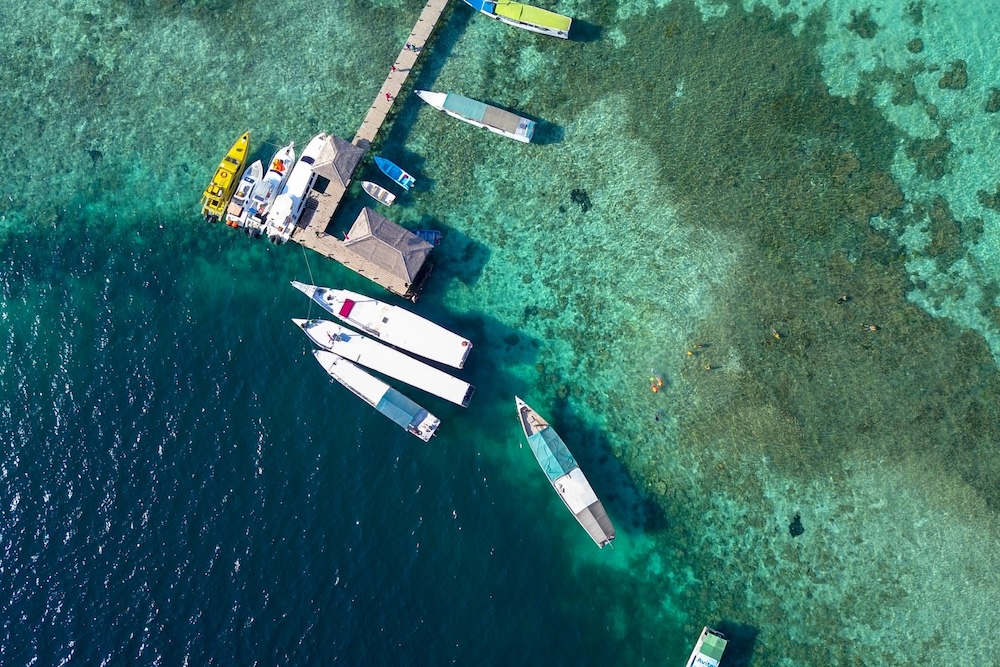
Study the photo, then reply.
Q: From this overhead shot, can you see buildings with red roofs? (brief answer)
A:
No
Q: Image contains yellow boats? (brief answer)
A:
Yes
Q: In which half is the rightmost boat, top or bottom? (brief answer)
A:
bottom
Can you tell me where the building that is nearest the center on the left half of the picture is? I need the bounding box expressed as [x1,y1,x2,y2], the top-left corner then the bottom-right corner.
[344,207,434,283]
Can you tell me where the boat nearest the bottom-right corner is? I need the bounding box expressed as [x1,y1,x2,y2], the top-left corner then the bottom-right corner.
[682,626,728,667]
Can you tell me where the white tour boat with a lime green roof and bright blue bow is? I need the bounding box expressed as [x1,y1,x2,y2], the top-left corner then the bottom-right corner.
[470,0,575,39]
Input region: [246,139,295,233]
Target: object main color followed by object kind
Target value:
white boat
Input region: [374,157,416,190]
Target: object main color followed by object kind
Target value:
blue boat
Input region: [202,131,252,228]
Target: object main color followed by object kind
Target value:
yellow boat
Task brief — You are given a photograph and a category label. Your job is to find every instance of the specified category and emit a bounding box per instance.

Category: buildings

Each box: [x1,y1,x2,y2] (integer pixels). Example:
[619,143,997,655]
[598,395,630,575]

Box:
[312,133,364,188]
[344,207,434,283]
